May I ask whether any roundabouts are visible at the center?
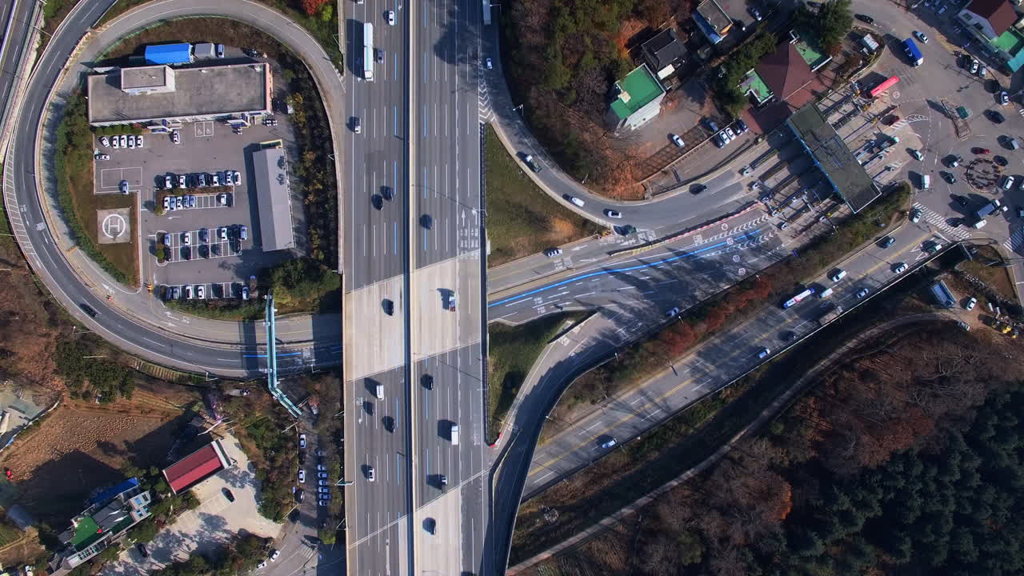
No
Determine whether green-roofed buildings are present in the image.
Yes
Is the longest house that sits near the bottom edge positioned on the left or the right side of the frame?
left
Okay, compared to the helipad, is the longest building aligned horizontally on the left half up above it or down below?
above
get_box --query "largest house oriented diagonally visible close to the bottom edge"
[53,477,157,567]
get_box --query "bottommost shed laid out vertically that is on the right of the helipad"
[253,140,299,251]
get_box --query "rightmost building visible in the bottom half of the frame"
[162,437,238,494]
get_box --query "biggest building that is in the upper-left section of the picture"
[88,63,278,135]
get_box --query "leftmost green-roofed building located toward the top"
[608,64,665,126]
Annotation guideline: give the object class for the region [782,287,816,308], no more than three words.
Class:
bus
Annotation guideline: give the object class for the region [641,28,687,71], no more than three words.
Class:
house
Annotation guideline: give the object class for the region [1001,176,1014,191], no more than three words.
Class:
vehicle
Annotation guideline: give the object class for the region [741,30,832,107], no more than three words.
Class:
building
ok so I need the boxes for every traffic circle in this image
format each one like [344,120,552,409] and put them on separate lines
[967,158,1001,192]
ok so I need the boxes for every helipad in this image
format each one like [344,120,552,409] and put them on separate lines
[97,208,131,244]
